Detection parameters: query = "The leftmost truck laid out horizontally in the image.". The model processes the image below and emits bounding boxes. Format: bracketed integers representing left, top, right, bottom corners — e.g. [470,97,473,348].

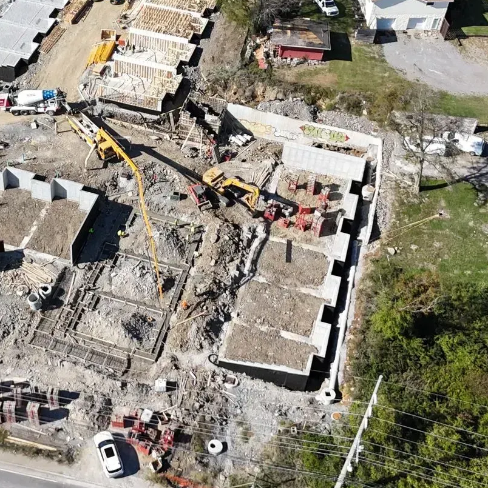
[0,89,74,117]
